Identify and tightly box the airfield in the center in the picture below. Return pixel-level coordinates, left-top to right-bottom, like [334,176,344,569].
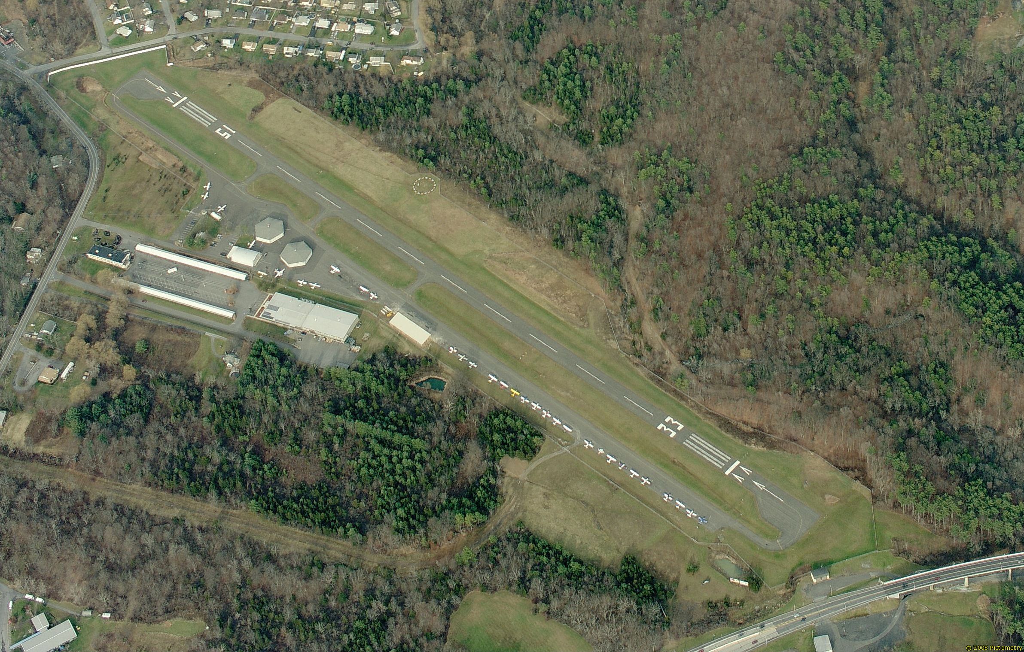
[110,68,822,550]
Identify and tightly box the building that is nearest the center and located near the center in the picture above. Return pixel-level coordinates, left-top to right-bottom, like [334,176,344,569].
[389,312,431,347]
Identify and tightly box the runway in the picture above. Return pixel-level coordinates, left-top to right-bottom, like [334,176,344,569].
[136,68,822,525]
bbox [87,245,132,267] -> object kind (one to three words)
building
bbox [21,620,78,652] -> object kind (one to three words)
building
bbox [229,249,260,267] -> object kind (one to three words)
hangar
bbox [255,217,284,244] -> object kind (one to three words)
hangar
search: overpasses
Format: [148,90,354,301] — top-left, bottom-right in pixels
[881,552,1024,599]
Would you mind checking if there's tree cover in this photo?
Yes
